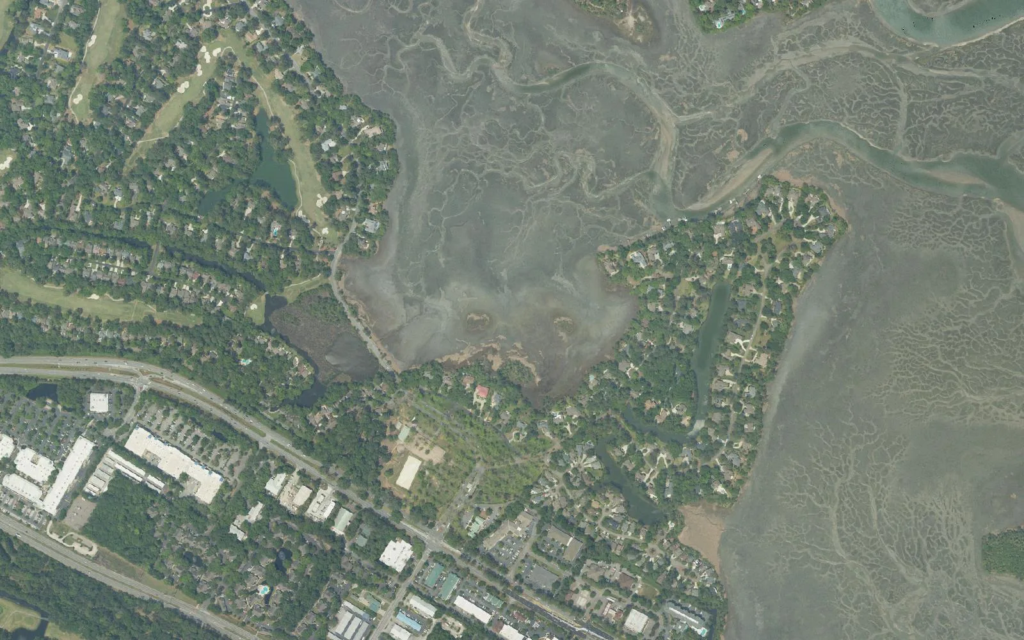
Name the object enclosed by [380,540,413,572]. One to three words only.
building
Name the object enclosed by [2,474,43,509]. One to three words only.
building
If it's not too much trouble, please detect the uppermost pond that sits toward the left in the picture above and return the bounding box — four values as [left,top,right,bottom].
[200,111,298,215]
